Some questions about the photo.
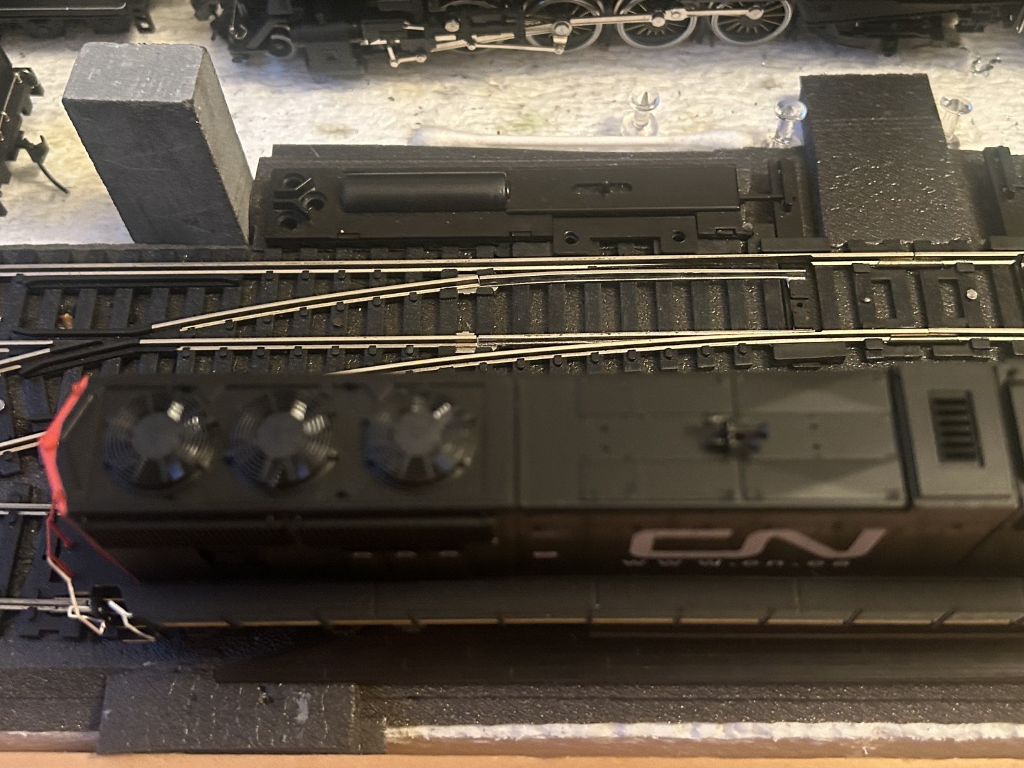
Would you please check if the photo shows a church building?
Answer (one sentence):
No, the photo shows no church building.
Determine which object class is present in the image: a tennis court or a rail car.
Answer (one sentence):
The one in the frame is a rail car.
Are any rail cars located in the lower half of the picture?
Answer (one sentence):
Yes, I can see a rail car in the lower half of the picture.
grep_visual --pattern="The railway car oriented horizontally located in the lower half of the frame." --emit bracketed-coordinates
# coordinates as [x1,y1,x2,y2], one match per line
[35,360,1024,659]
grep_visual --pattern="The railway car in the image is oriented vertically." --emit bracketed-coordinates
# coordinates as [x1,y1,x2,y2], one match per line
[0,29,73,234]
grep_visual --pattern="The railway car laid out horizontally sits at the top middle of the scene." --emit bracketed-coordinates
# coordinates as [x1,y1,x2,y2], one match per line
[175,0,990,86]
